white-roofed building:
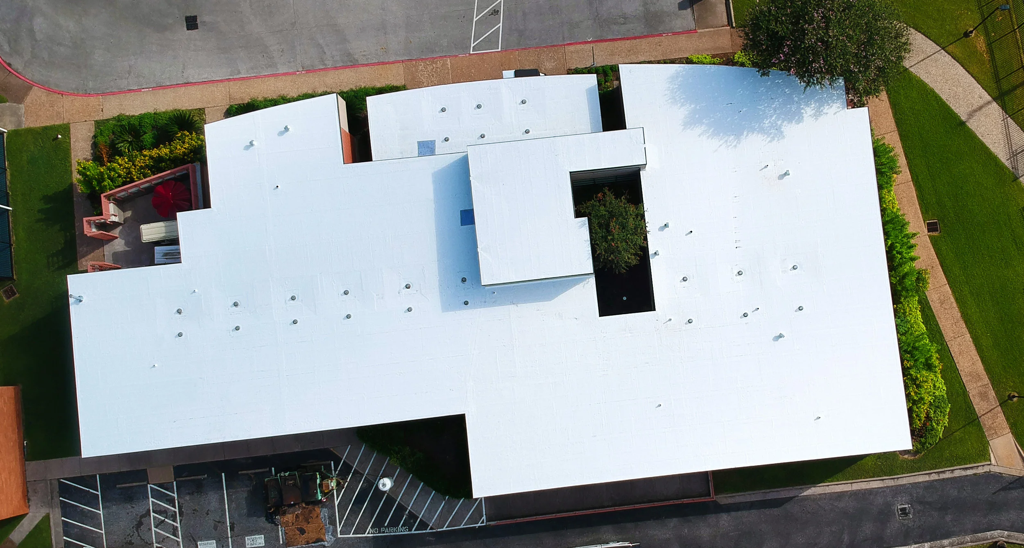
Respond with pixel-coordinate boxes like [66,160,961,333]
[67,63,913,499]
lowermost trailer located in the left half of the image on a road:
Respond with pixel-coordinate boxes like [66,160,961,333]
[264,468,351,507]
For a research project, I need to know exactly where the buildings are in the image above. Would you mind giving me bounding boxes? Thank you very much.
[67,63,913,499]
[0,386,31,518]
